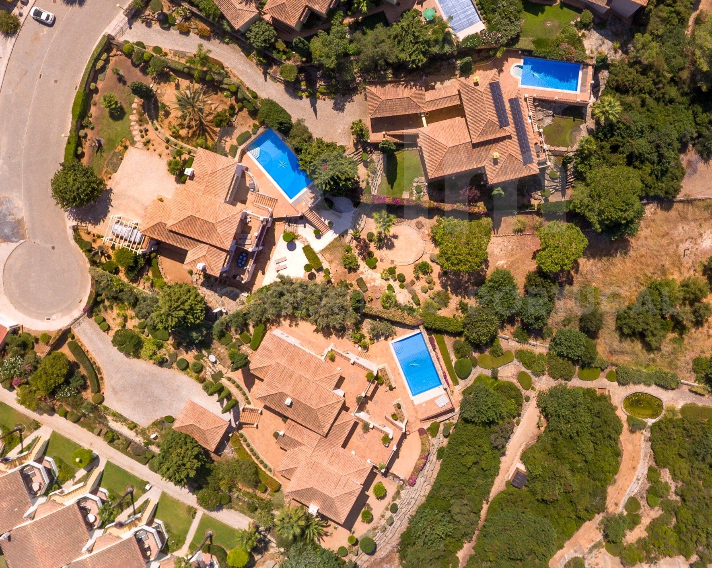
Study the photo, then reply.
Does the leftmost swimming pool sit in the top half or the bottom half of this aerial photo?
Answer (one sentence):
You can find the leftmost swimming pool in the top half.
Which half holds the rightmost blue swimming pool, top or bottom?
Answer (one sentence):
The rightmost blue swimming pool sits in the top half of the picture.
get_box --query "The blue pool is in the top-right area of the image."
[518,54,583,93]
